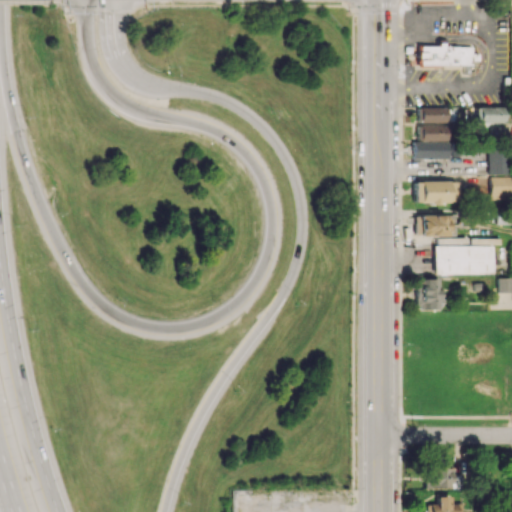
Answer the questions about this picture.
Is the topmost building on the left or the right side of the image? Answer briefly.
right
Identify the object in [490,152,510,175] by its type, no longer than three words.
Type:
building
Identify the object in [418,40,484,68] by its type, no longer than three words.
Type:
building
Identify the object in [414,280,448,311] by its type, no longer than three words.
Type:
house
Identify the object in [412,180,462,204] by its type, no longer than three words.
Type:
house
